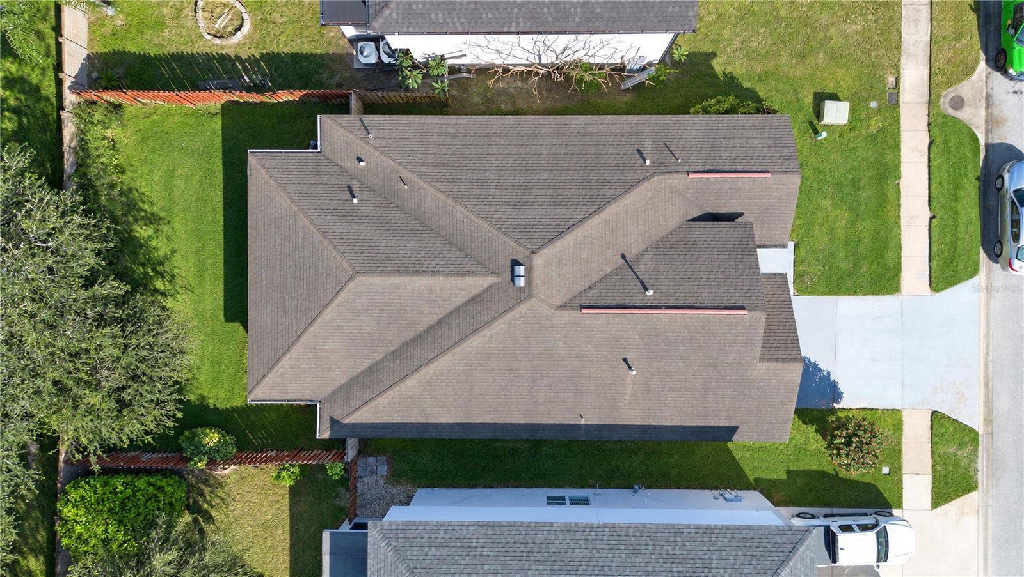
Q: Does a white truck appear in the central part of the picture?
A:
No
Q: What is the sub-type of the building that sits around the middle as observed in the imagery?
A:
house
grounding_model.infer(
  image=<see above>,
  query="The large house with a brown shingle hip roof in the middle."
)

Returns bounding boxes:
[246,112,802,442]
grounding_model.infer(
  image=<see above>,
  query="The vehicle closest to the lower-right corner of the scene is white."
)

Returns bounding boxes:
[783,511,913,573]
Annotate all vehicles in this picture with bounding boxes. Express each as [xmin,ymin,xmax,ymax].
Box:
[993,159,1024,274]
[993,0,1024,82]
[783,511,913,573]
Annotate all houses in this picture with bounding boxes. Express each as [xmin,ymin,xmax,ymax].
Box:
[318,0,699,64]
[320,481,819,577]
[246,112,802,442]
